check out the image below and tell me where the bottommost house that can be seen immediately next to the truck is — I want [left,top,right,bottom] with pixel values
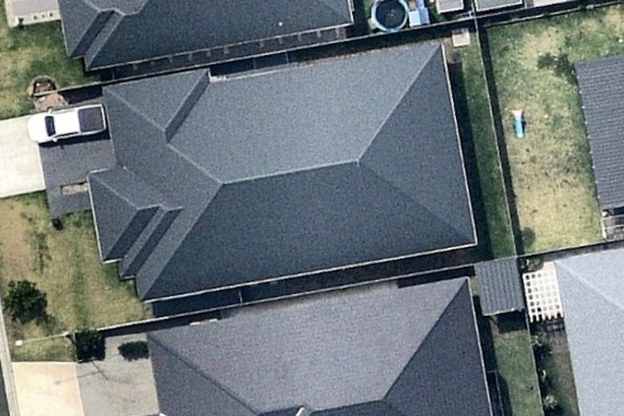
[86,41,478,304]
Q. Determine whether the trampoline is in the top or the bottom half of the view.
top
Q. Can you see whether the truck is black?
No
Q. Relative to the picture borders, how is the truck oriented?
from left to right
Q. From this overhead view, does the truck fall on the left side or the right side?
left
